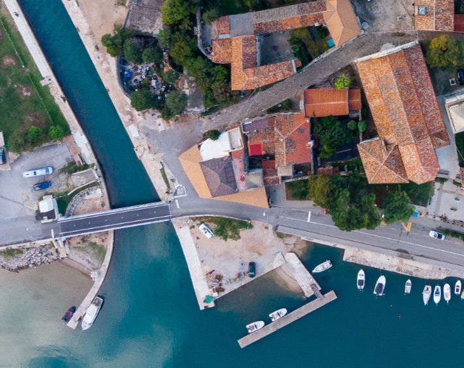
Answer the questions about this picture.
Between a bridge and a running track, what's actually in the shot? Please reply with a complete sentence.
This aerial view contains a bridge.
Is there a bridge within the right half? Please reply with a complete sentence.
No, within the right half there is no bridge.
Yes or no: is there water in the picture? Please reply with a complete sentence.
Yes, there's water in this view.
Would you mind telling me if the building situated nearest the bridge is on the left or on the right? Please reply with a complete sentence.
It is on the left.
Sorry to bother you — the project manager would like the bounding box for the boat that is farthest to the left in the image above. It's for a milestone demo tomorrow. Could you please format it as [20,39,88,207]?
[63,304,78,322]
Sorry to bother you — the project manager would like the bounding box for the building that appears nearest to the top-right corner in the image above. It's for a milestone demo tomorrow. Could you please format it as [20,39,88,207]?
[415,0,464,32]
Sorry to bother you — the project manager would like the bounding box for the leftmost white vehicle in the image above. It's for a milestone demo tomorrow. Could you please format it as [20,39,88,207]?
[19,167,53,179]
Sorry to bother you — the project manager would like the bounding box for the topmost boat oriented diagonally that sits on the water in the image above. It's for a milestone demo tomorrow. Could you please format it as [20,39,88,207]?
[313,259,333,272]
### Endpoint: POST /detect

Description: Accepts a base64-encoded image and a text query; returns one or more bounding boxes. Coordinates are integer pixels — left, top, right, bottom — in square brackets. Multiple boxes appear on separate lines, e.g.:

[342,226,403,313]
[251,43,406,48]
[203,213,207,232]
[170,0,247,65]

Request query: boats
[313,259,333,272]
[435,285,441,304]
[405,280,411,295]
[423,284,432,305]
[268,308,287,322]
[357,269,364,291]
[373,275,385,297]
[455,281,461,296]
[84,296,104,329]
[63,304,78,322]
[246,321,264,334]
